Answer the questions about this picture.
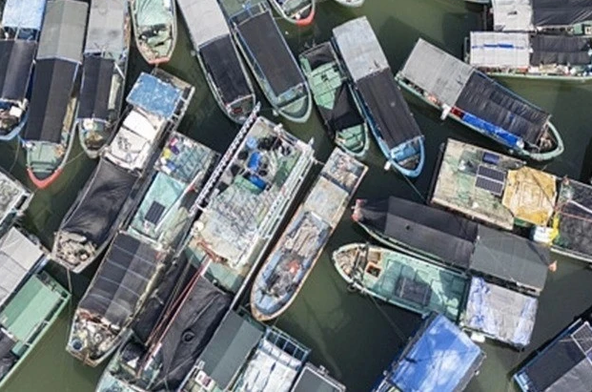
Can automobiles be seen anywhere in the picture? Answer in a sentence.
No, I can't see a single automobile in this photo.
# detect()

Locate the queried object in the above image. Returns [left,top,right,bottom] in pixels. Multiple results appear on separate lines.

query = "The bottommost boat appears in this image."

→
[292,365,350,392]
